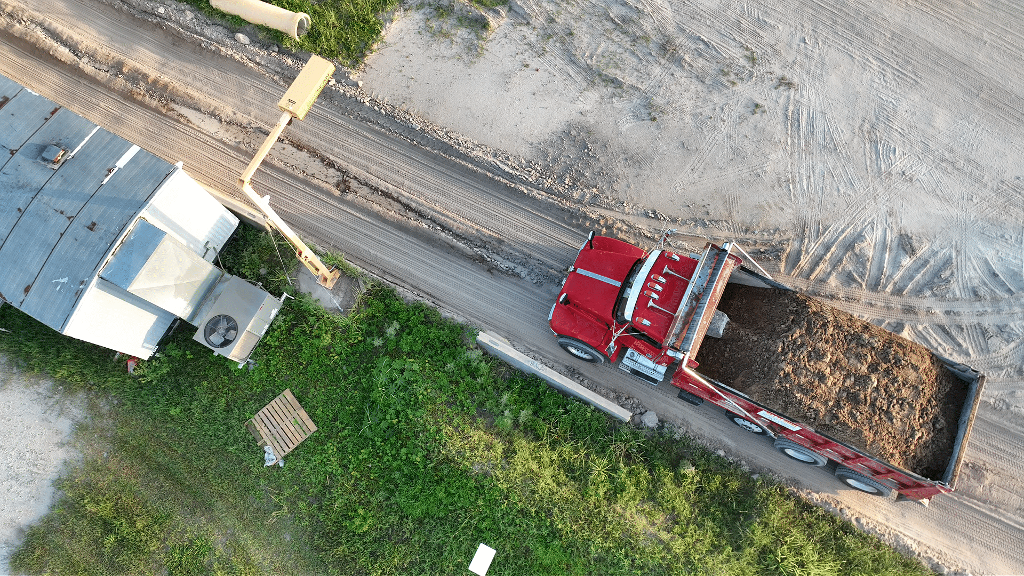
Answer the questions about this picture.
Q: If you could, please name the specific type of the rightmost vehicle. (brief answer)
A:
truck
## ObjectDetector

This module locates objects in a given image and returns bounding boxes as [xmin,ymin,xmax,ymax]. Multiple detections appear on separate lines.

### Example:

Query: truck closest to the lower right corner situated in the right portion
[551,213,992,499]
